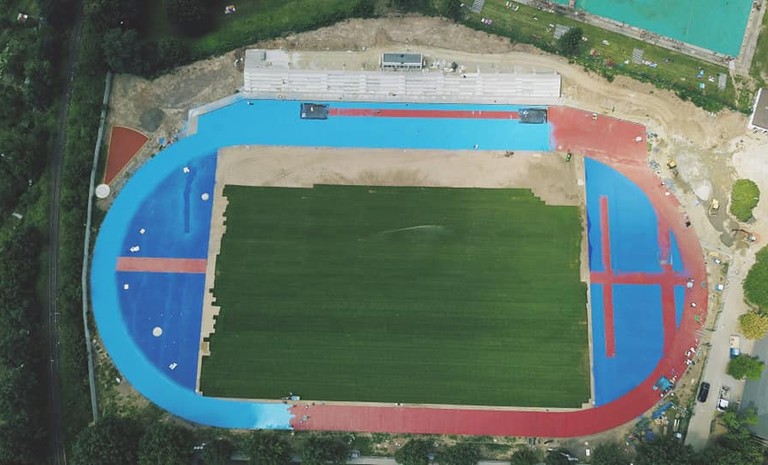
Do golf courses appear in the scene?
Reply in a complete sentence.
No, the picture doesn't show any golf course.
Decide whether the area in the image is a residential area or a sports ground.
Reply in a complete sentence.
What you see here is a sports ground.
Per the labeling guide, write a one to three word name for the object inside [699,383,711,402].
vehicle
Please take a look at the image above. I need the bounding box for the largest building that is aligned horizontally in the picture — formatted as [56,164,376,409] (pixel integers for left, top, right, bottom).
[380,52,424,74]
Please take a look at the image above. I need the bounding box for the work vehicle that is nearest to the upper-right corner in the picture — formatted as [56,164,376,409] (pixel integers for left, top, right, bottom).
[666,157,681,177]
